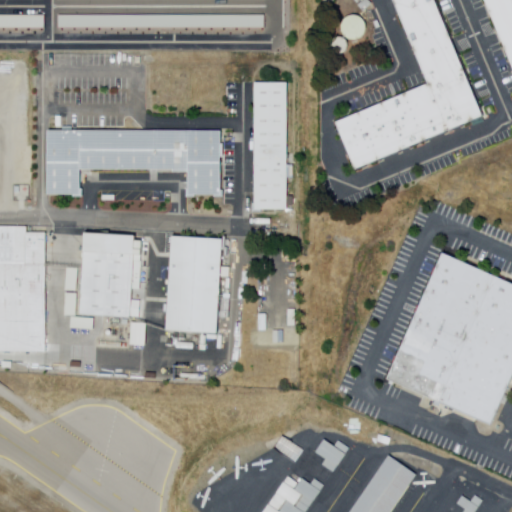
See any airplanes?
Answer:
Yes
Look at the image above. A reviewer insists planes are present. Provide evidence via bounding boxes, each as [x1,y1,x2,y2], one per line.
[232,456,249,480]
[252,459,273,474]
[208,466,226,485]
[195,488,210,508]
[412,470,436,488]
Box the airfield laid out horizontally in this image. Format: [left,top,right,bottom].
[0,383,512,512]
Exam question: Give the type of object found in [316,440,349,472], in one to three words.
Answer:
hangar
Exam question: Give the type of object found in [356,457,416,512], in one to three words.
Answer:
hangar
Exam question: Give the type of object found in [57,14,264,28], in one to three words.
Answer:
building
